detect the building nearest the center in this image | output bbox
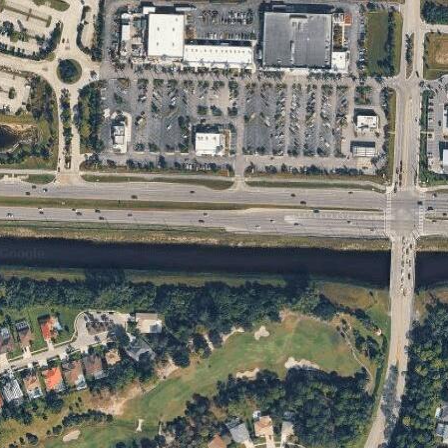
[195,133,223,157]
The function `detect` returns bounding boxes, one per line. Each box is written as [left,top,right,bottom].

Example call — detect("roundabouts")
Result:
[47,50,90,93]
